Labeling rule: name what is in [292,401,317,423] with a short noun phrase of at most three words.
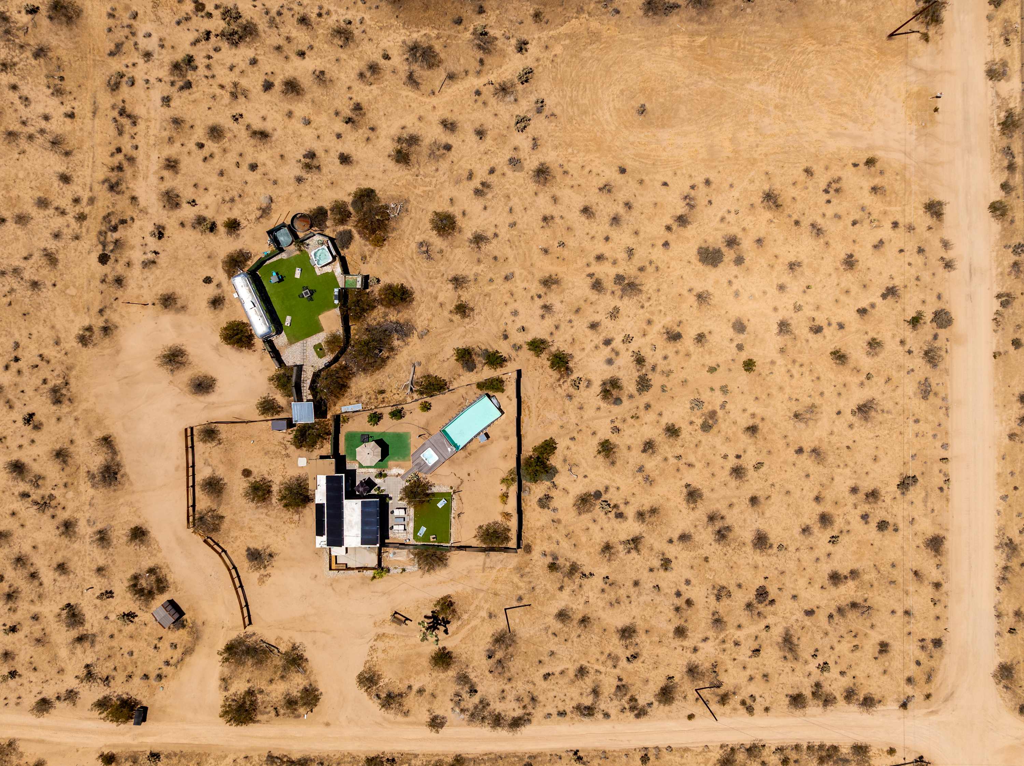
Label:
shed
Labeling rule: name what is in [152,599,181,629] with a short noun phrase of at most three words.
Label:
shed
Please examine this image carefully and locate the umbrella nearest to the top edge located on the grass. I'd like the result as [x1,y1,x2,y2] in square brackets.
[357,434,380,465]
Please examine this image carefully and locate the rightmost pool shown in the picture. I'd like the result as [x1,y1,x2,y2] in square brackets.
[434,387,508,457]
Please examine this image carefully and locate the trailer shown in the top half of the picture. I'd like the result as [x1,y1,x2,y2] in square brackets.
[233,268,276,341]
